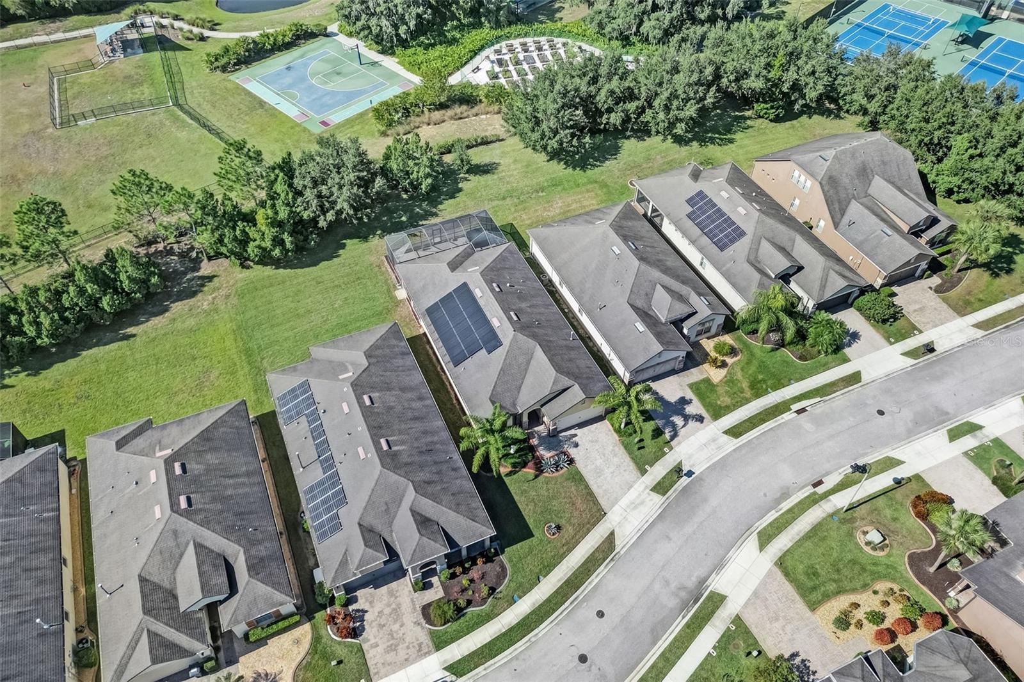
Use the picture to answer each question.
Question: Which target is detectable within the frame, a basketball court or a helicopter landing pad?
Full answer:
There is a basketball court in the scene.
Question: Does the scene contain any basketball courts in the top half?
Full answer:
Yes, a basketball court appears in the top half.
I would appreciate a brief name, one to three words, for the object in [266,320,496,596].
house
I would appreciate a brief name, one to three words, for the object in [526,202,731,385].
house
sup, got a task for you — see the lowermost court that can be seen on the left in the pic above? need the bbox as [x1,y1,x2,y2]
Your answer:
[229,35,405,133]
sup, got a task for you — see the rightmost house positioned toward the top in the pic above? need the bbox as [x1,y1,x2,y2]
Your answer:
[753,131,959,289]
